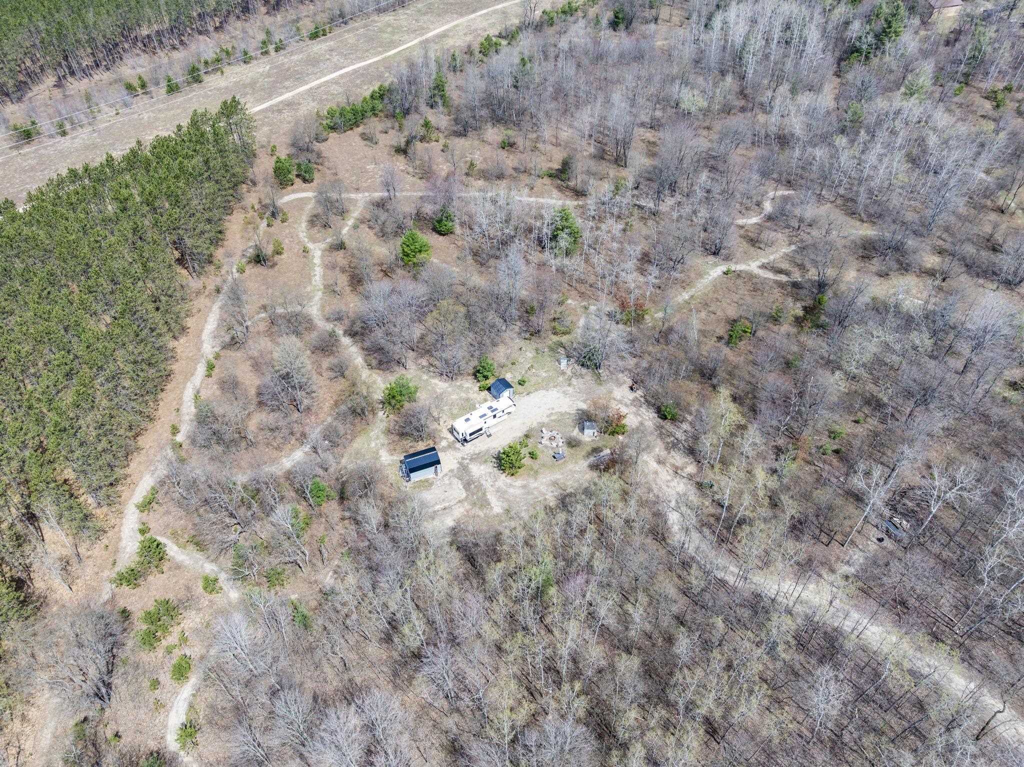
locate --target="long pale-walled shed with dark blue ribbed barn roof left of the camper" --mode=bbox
[403,447,441,481]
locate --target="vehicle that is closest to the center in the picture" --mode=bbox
[452,395,521,446]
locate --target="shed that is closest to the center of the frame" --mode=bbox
[490,377,514,400]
